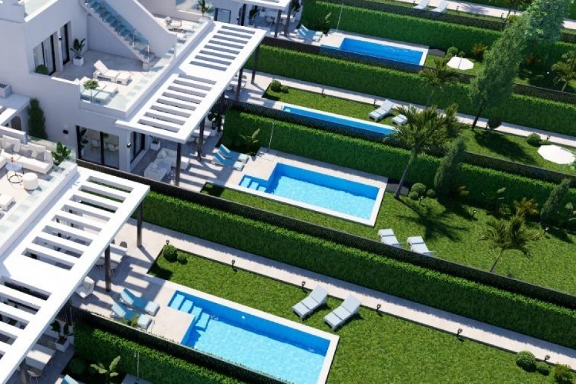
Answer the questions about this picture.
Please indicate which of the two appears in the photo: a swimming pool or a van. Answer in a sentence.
Visible in the photo is a swimming pool.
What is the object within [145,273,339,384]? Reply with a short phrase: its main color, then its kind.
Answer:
blue swimming pool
